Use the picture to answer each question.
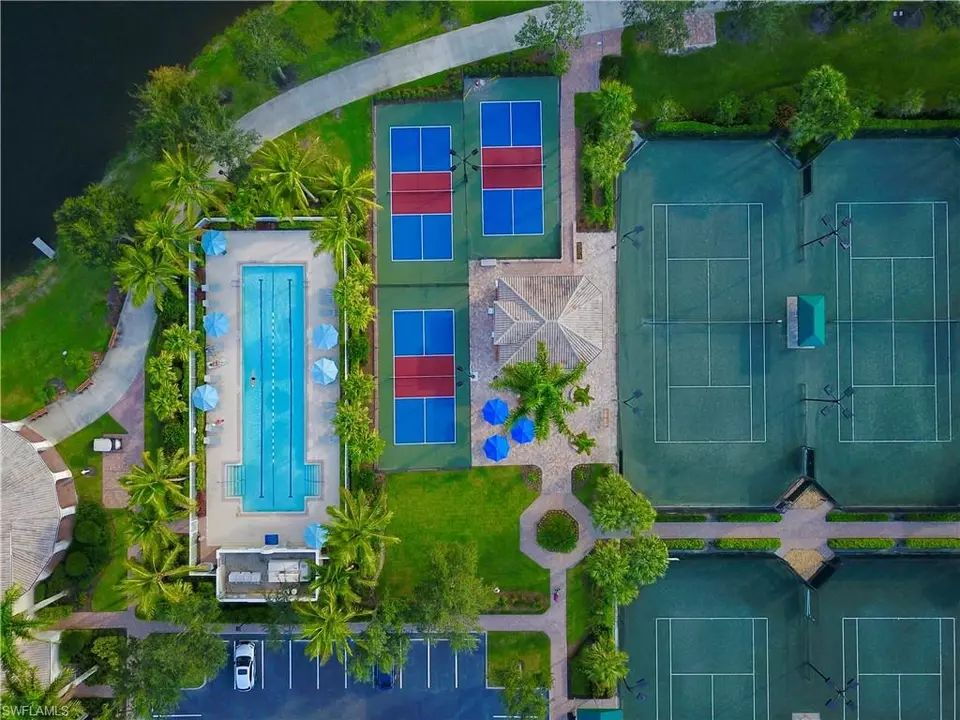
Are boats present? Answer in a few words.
No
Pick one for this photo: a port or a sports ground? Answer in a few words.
sports ground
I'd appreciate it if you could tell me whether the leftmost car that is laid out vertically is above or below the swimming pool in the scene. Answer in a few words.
below it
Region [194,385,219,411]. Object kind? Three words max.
umbrella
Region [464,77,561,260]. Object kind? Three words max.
sports court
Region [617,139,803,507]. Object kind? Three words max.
tennis court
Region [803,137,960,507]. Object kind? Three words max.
tennis court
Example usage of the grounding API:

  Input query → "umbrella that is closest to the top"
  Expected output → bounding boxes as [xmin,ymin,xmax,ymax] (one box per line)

[202,231,228,256]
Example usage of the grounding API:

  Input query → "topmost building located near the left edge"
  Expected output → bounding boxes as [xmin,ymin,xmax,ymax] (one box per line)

[0,416,78,608]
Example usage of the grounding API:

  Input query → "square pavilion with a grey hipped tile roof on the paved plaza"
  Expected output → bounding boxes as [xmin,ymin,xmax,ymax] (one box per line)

[494,275,603,370]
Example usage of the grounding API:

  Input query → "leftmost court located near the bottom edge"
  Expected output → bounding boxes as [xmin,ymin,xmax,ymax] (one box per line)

[617,558,808,720]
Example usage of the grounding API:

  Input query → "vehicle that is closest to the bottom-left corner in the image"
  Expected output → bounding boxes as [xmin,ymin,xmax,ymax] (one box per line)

[232,642,256,693]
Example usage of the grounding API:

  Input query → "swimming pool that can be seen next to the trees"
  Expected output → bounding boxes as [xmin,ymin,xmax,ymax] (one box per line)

[210,262,326,516]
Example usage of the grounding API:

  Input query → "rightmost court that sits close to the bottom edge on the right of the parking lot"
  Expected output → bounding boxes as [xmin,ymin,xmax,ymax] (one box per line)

[808,556,960,720]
